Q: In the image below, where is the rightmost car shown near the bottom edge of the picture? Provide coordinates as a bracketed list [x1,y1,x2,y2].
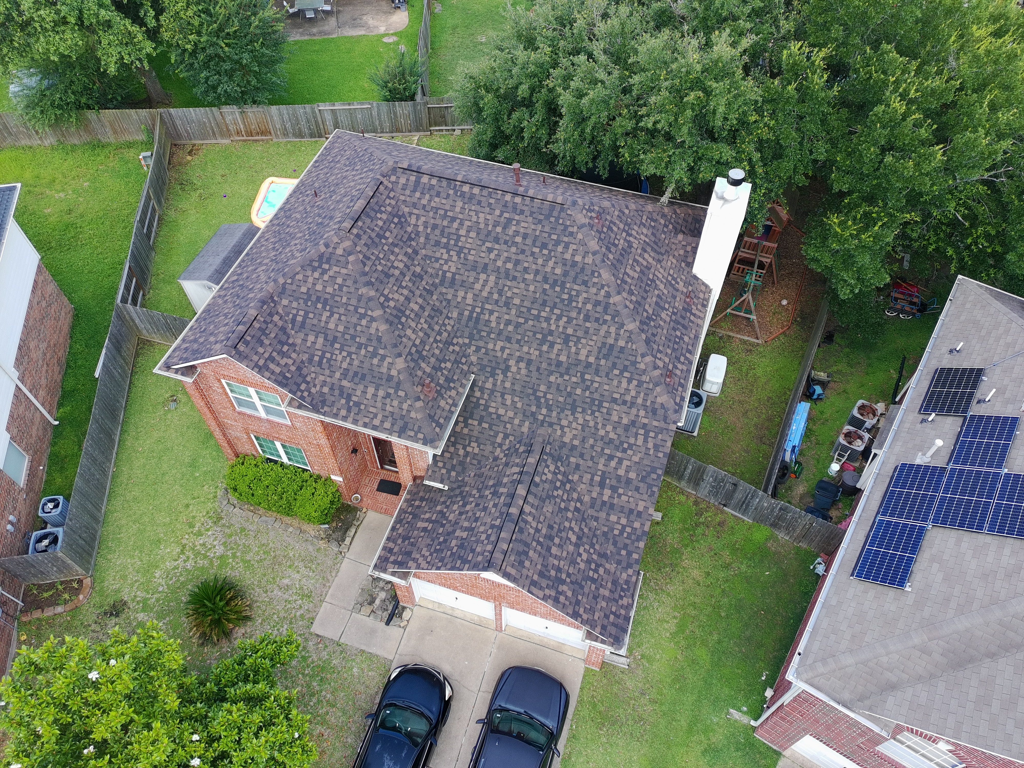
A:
[470,656,568,768]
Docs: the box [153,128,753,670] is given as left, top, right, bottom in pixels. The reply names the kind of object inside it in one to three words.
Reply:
house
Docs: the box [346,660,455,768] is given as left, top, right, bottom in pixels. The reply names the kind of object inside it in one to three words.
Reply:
car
